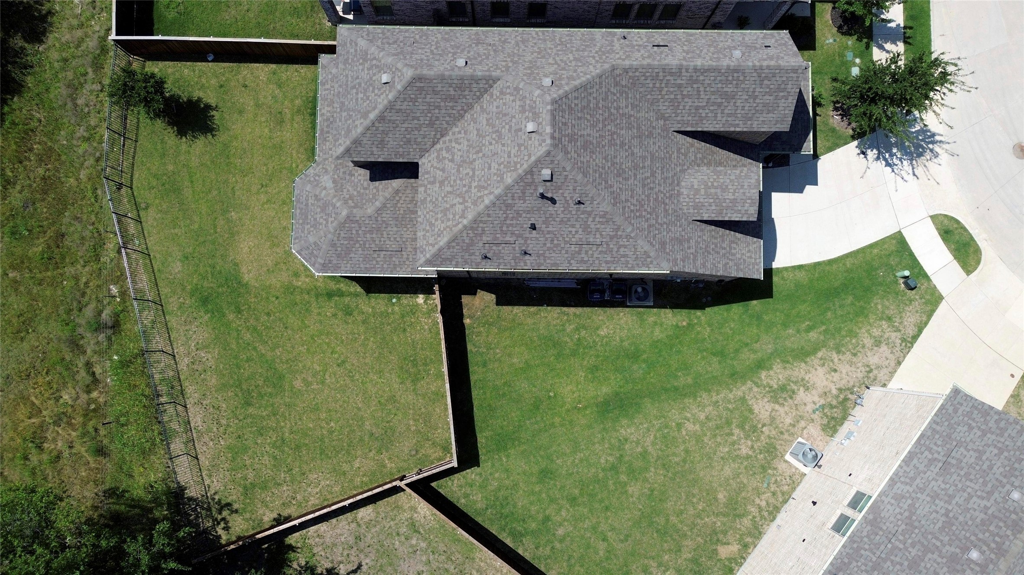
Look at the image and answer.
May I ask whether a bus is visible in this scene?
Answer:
No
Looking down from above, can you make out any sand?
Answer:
No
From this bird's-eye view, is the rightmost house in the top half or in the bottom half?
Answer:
bottom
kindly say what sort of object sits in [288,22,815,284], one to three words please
house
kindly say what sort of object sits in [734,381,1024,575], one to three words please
house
